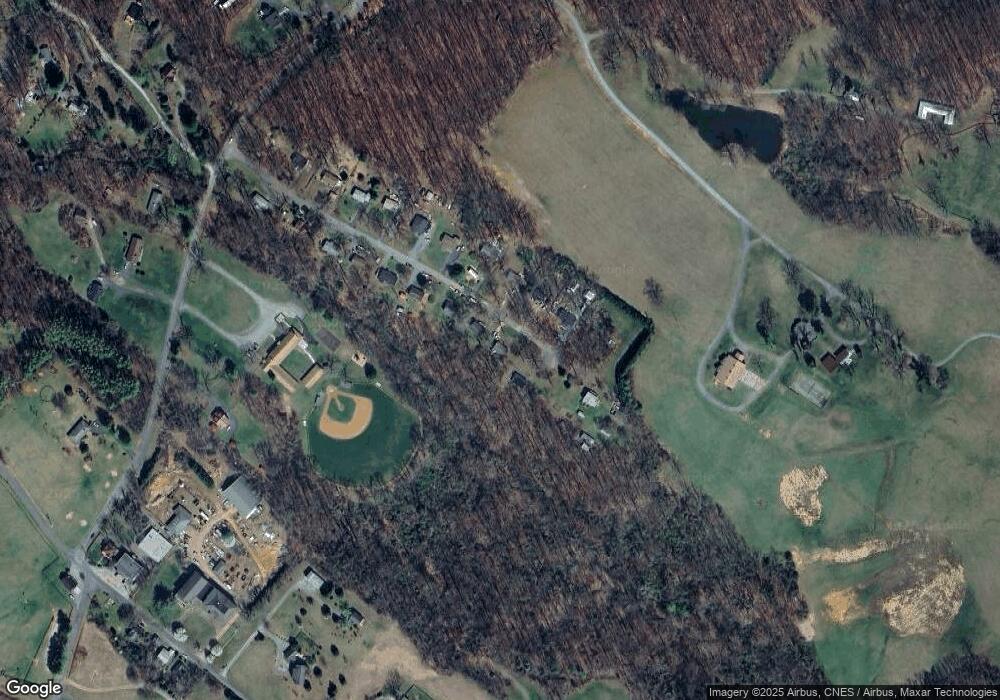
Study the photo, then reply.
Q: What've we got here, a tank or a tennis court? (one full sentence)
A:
There is a tennis court in the scene.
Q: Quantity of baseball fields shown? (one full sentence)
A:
My tally gives 1 baseball field in this photo.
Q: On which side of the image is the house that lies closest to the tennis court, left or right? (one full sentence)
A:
The house that lies closest to the tennis court is on the right side of the image.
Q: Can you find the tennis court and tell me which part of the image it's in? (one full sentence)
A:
The tennis court appears toward the right of the photo.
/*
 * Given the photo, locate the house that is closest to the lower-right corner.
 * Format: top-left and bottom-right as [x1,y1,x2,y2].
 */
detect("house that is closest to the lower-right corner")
[819,345,850,372]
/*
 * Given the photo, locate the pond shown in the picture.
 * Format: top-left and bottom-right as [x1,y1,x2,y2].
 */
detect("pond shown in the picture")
[666,89,784,163]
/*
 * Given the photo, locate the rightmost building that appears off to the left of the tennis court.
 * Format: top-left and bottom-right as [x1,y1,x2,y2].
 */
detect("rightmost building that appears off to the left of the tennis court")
[714,351,748,389]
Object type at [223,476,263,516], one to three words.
barn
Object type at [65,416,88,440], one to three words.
house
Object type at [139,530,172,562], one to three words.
building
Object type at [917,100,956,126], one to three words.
building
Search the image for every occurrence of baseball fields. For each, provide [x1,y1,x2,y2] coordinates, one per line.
[305,381,418,488]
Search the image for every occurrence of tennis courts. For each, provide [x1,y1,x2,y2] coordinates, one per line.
[791,373,831,407]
